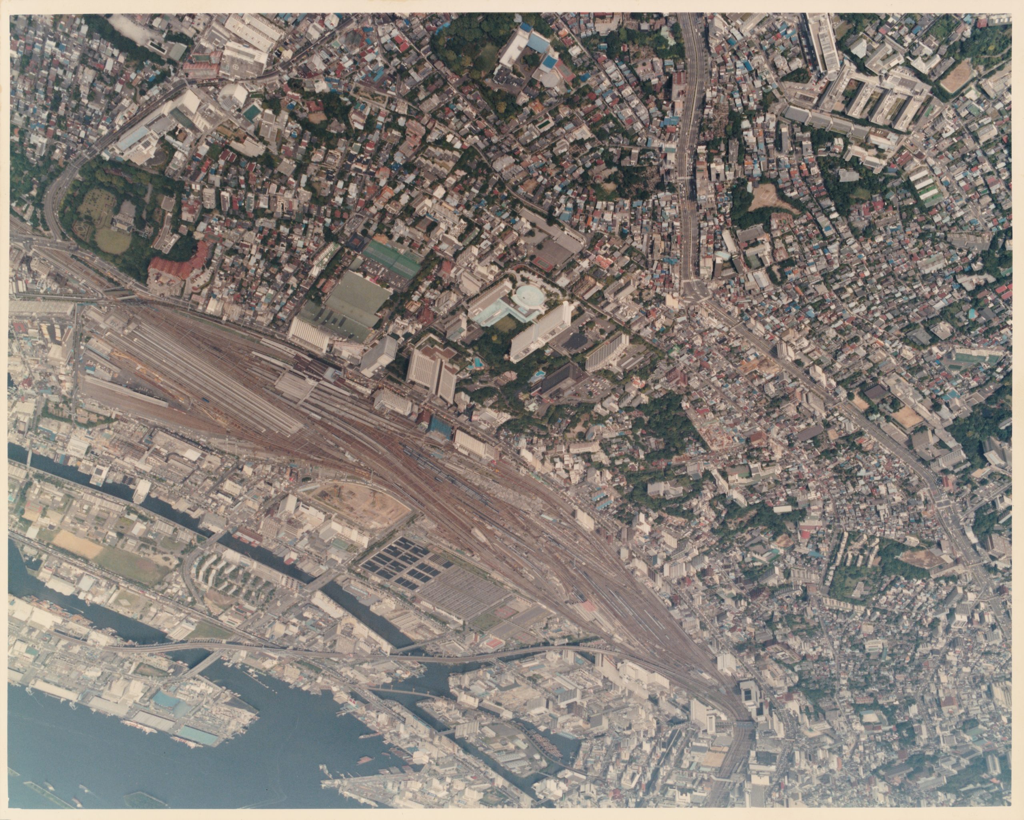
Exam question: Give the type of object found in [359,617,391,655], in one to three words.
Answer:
building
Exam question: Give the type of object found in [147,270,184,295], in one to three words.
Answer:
building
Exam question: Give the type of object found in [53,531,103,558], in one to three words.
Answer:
sports field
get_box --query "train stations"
[247,338,376,428]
